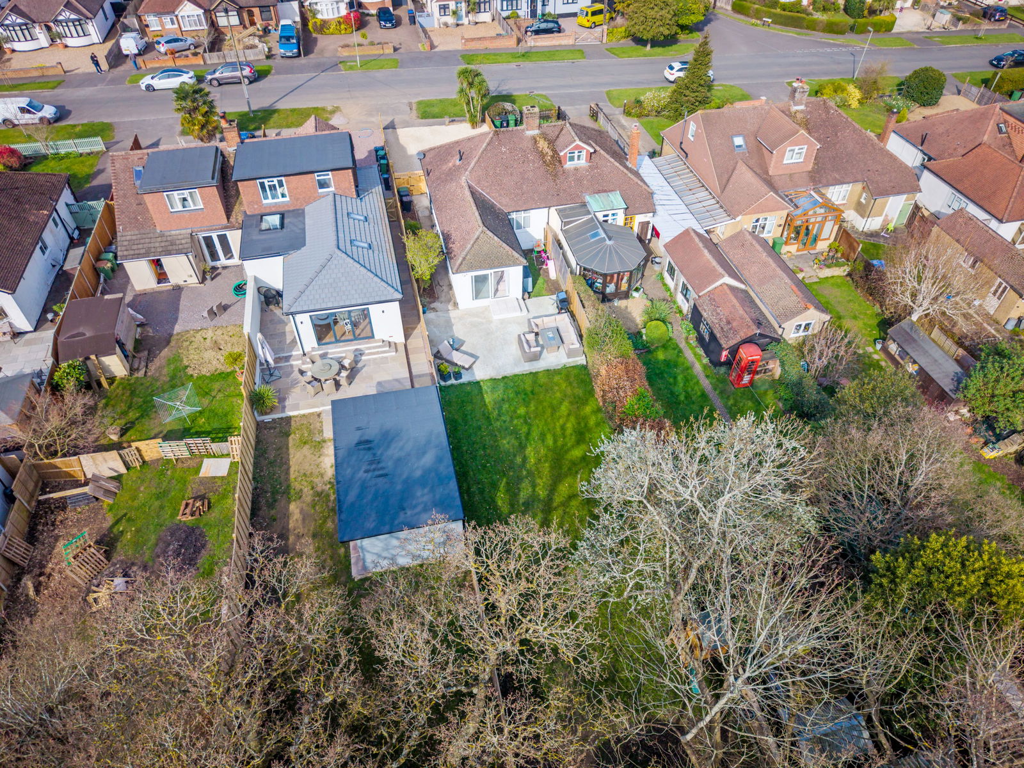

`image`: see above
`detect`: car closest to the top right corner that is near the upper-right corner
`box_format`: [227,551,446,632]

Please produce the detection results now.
[987,2,1010,21]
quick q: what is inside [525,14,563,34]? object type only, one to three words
car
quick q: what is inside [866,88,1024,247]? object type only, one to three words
house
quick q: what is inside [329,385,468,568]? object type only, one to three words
building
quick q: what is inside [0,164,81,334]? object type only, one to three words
house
